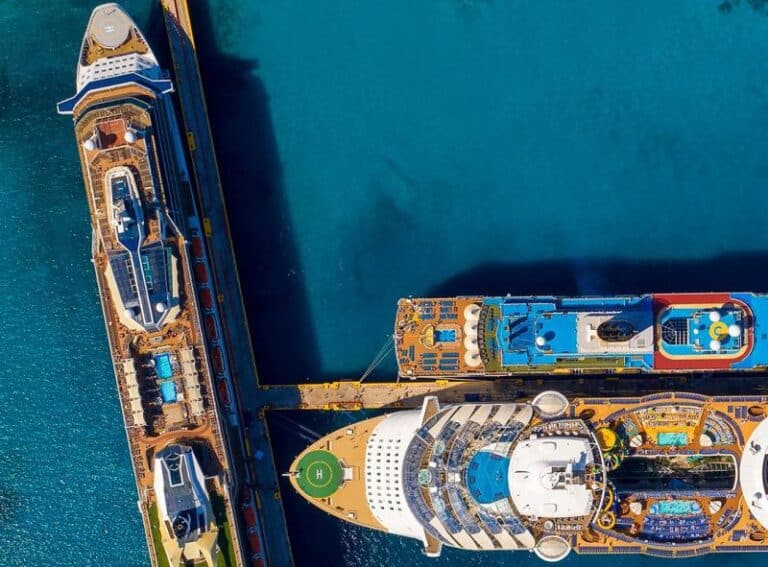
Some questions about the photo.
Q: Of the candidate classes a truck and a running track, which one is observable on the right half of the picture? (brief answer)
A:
running track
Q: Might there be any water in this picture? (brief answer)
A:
Yes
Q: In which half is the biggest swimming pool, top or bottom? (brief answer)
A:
bottom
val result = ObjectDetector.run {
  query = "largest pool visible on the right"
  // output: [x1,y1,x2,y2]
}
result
[465,450,508,504]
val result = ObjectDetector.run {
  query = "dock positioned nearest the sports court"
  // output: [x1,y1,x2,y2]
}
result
[160,0,293,567]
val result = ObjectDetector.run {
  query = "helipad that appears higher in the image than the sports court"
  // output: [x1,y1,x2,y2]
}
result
[91,10,130,52]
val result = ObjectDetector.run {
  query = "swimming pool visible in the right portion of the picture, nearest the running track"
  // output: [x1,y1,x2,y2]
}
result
[656,432,688,447]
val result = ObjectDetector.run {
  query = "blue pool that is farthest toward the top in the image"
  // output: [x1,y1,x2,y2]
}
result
[435,328,457,343]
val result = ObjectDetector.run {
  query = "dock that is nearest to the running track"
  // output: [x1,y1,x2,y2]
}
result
[258,374,768,410]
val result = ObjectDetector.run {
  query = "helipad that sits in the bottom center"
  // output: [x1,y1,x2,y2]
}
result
[296,450,347,497]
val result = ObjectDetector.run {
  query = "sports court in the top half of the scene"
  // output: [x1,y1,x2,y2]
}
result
[90,116,128,151]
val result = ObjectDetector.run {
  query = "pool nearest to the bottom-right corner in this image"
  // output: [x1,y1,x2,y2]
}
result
[652,499,694,515]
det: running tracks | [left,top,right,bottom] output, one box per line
[655,293,754,369]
